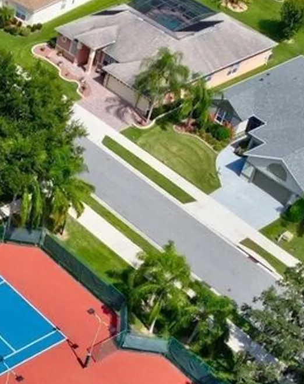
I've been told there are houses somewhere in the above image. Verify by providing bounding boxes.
[0,0,90,24]
[56,2,278,114]
[205,55,304,206]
